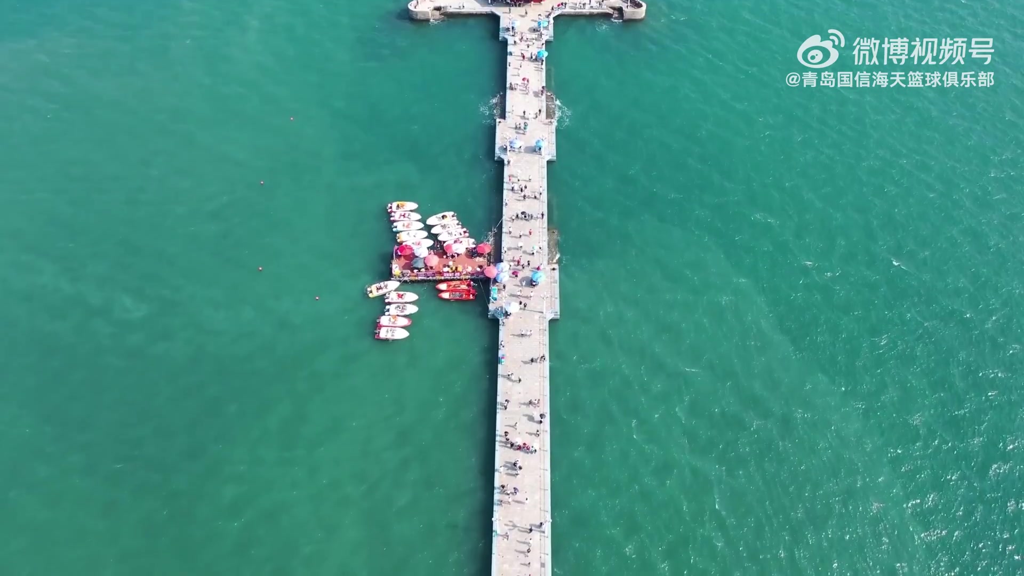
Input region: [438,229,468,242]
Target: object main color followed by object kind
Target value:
white boat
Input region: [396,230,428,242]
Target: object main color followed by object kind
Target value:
white boat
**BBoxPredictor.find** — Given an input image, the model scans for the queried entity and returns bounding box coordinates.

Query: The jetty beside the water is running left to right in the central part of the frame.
[393,246,493,281]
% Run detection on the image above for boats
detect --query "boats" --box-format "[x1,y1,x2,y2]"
[426,212,458,225]
[431,221,463,234]
[375,327,409,340]
[366,281,400,297]
[393,220,424,231]
[375,315,412,327]
[390,212,422,222]
[385,292,418,303]
[399,238,434,249]
[438,291,477,300]
[436,282,473,291]
[385,304,418,315]
[396,230,428,242]
[388,202,418,212]
[438,229,468,242]
[444,237,477,249]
